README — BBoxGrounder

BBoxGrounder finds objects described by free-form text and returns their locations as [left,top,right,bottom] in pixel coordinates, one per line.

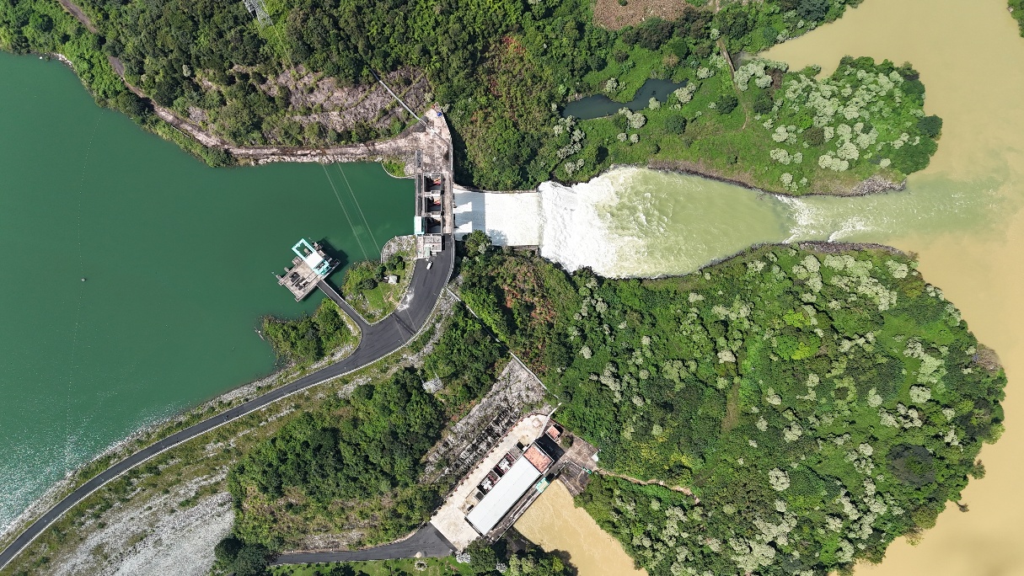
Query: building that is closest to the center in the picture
[424,236,442,257]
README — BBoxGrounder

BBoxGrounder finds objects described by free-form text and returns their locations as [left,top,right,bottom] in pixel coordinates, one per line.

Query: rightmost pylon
[420,369,444,390]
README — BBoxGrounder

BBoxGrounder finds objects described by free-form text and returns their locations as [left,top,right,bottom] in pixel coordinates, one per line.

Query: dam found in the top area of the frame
[415,169,541,250]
